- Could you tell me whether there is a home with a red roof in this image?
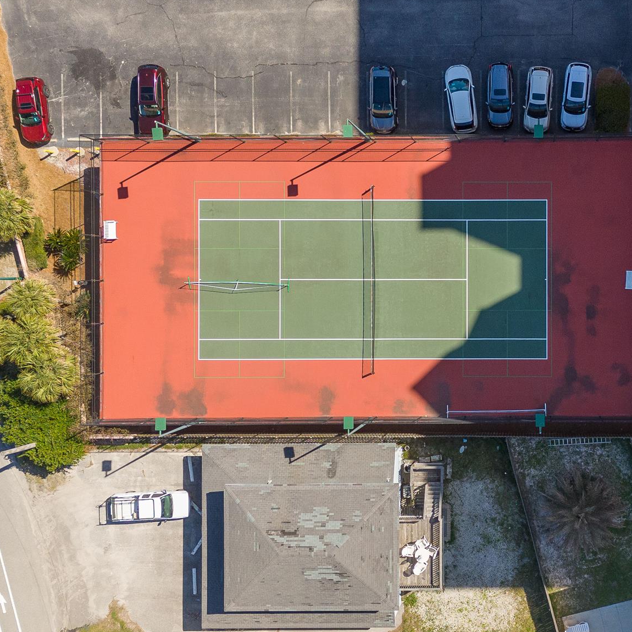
No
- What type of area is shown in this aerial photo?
sports ground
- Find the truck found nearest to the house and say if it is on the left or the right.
left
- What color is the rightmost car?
blue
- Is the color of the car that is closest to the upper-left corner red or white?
red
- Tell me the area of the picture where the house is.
bottom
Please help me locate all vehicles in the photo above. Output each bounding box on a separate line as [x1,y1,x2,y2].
[102,490,193,524]
[559,61,593,135]
[366,65,399,135]
[135,63,172,135]
[14,75,57,145]
[484,61,517,131]
[522,65,555,135]
[443,65,477,135]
